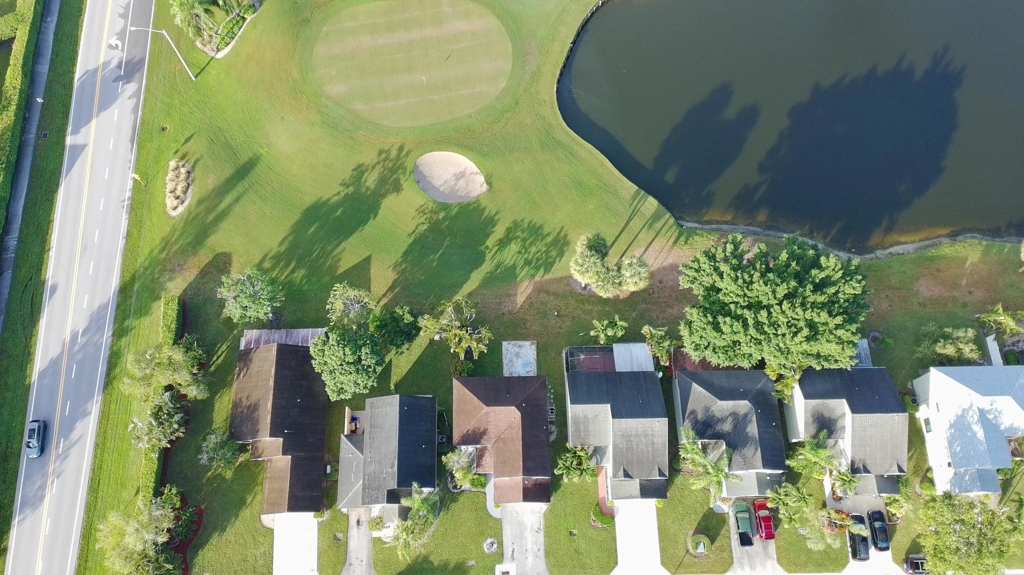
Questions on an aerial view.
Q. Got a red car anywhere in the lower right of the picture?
Yes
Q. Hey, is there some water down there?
Yes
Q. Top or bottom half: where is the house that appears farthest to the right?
bottom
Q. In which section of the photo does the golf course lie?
top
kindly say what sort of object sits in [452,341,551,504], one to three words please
house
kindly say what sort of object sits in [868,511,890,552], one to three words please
car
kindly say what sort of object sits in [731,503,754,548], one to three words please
truck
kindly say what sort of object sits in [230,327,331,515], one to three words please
house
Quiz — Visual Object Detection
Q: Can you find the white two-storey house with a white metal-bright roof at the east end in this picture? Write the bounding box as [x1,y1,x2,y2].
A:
[911,365,1024,496]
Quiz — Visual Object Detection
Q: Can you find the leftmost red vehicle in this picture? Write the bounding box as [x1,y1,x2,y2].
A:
[753,500,775,541]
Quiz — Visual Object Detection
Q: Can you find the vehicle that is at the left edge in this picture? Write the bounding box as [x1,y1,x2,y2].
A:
[24,420,48,458]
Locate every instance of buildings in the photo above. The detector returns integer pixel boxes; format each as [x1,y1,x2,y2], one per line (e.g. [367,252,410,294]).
[672,370,787,498]
[337,395,437,524]
[452,341,551,504]
[911,365,1024,496]
[566,343,668,502]
[230,327,331,515]
[790,368,908,497]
